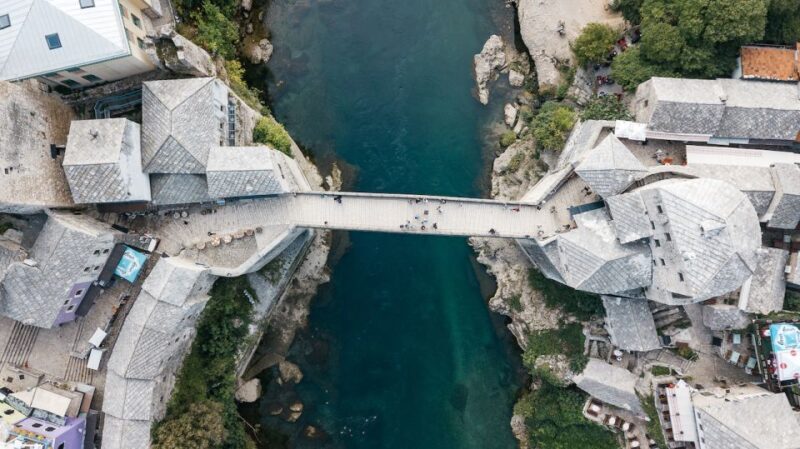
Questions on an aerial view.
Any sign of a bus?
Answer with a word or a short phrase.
No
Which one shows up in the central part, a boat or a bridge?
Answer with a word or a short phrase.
bridge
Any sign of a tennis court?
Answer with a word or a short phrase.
No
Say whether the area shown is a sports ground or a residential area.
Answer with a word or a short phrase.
residential area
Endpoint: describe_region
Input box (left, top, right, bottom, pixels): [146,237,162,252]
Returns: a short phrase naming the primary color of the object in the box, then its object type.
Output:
white umbrella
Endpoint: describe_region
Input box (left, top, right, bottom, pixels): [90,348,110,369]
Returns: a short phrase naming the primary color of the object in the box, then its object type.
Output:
white umbrella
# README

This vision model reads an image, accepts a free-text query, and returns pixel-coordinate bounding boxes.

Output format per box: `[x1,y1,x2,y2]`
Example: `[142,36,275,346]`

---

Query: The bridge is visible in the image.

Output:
[293,192,539,238]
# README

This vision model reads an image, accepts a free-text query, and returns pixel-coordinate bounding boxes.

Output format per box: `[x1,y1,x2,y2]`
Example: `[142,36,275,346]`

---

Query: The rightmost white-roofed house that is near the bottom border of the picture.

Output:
[685,382,800,449]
